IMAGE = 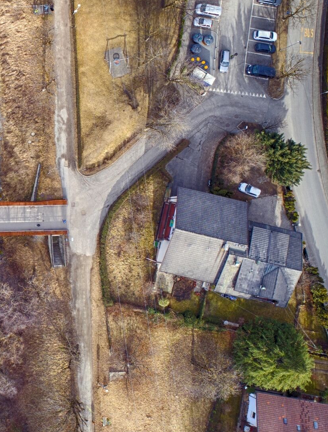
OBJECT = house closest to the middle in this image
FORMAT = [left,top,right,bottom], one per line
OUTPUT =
[147,187,303,307]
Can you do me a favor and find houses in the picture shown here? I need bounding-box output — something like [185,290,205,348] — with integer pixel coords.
[147,187,303,307]
[243,387,328,432]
